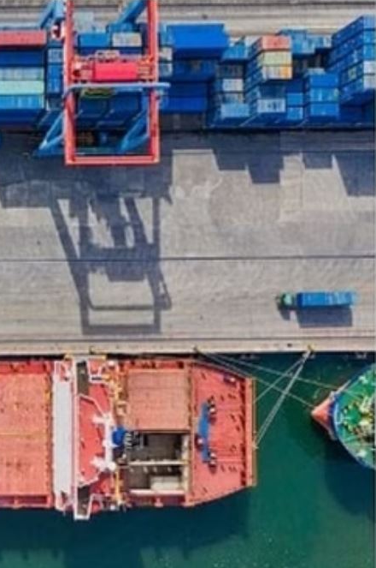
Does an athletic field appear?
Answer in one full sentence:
No, the photo shows no athletic field.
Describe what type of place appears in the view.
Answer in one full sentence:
The area seen from above is a port.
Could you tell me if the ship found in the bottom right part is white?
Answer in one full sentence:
No, the color of the ship found in the bottom right part is green.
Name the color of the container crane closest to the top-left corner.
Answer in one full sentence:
The container crane closest to the top-left corner is red.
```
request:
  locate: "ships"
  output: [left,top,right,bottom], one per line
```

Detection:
[0,352,256,520]
[315,362,376,476]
